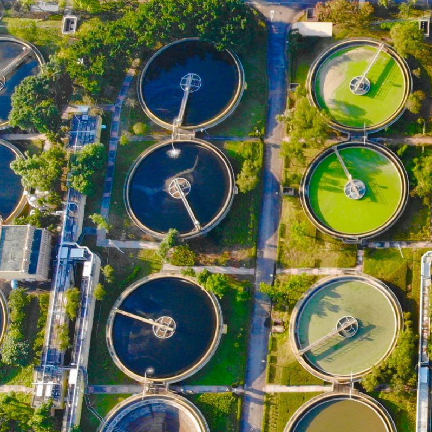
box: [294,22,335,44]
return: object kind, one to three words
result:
shed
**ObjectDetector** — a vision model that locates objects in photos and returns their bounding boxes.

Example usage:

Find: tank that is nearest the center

[125,136,237,246]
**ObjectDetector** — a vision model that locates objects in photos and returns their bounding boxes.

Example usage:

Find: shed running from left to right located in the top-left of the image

[30,4,63,17]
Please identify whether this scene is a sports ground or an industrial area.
industrial area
